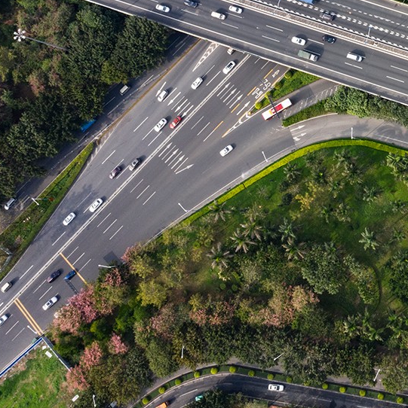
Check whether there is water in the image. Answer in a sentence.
No, water can't be seen anywhere here.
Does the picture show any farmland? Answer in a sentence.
No, the scene doesn't show any farmland.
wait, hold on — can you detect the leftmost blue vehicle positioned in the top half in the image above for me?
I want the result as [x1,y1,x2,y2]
[79,118,96,134]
